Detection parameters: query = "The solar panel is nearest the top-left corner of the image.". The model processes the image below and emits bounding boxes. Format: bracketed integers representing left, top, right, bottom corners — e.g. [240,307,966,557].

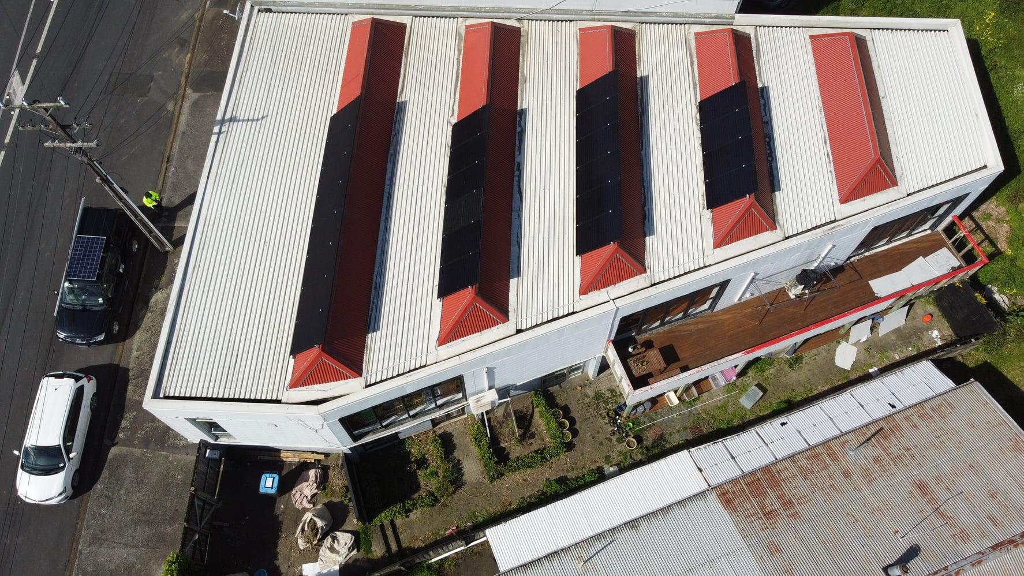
[66,239,106,282]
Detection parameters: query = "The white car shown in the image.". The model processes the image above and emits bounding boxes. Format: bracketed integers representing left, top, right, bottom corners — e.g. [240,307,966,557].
[8,371,99,508]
